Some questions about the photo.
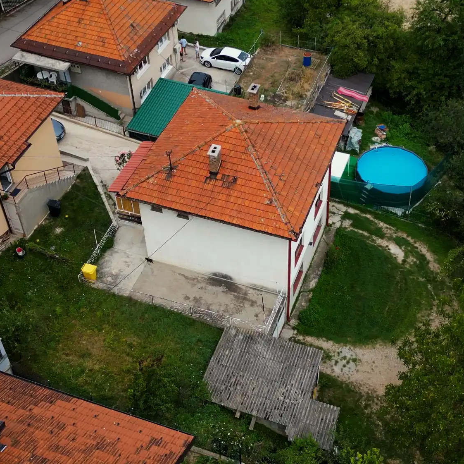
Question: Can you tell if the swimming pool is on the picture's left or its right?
right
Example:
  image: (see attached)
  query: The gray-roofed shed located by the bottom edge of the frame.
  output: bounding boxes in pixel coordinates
[204,327,340,454]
